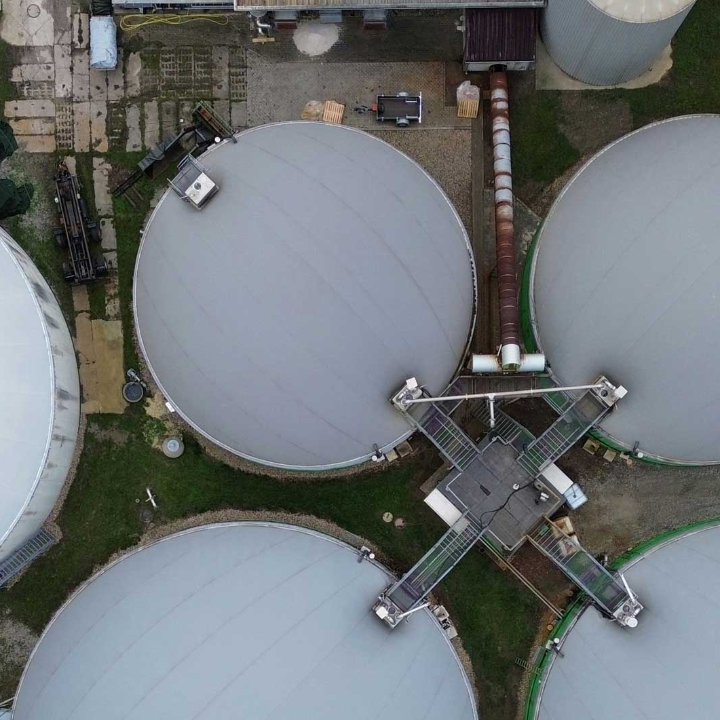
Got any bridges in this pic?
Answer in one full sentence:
Yes, the frame does contain a bridge.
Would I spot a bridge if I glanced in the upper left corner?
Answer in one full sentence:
No, no bridge appears in the upper left corner.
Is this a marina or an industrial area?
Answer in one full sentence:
It's an industrial area.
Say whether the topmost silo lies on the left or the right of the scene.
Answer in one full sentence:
The topmost silo is on the right side of the image.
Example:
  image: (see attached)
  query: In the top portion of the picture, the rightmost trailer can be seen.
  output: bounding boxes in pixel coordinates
[352,90,422,131]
